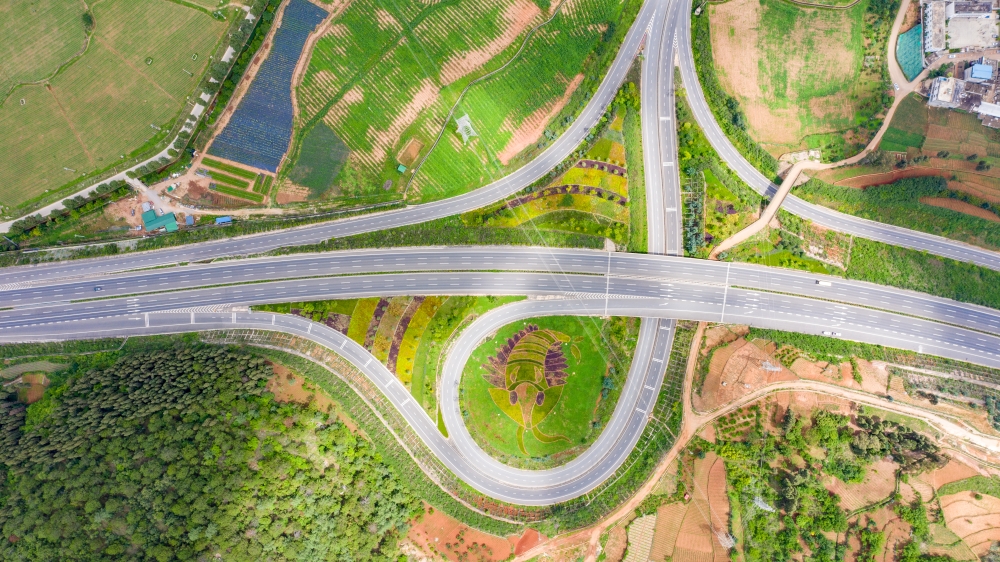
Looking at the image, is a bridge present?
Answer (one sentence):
Yes, there's a bridge here.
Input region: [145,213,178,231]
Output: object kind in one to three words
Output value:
shed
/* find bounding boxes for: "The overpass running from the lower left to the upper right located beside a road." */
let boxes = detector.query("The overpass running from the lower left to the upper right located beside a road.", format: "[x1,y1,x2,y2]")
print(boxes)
[748,162,811,236]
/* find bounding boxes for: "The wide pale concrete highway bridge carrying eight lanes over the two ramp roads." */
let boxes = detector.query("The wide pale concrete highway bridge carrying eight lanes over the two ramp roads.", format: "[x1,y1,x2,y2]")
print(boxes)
[605,250,729,322]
